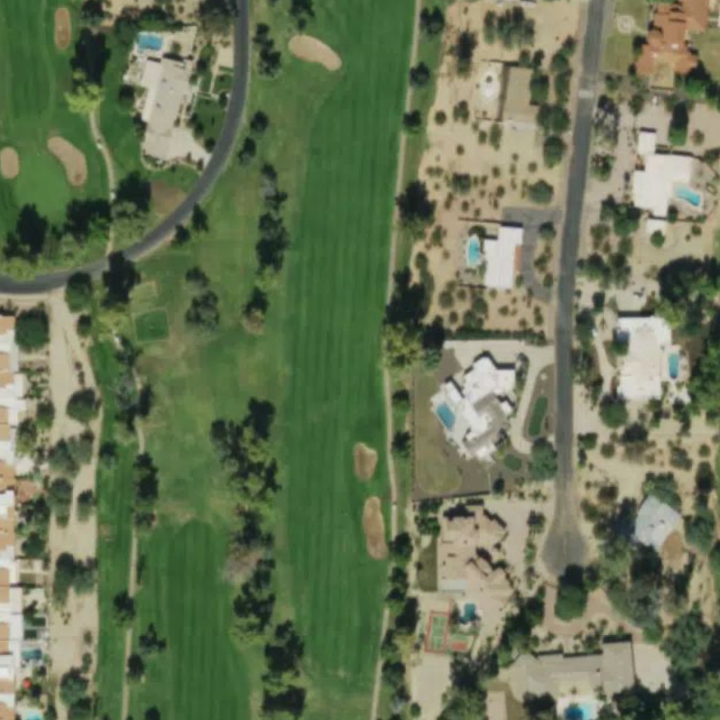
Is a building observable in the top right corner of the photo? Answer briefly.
Yes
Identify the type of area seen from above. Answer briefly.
golf course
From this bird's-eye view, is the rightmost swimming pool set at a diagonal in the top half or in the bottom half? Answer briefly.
top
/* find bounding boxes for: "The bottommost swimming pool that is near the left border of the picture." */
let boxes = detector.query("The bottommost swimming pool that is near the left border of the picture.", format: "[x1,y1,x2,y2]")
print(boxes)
[27,708,43,720]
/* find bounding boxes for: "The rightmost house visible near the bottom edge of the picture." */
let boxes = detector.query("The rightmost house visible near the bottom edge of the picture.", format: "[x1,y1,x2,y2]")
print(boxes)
[509,642,634,701]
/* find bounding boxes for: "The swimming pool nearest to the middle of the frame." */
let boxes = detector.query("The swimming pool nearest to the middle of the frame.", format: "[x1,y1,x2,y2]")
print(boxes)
[435,401,456,431]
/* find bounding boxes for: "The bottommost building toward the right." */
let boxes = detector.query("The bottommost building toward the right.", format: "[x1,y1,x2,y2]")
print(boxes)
[488,691,507,720]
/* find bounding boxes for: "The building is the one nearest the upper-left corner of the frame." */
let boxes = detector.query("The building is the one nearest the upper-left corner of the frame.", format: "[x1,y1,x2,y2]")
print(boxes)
[142,58,190,158]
